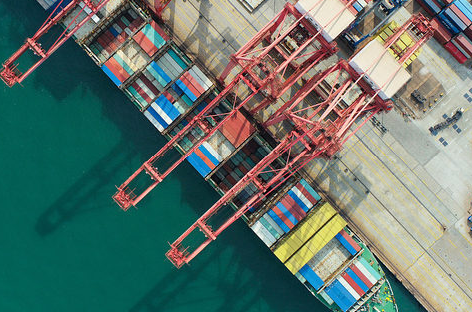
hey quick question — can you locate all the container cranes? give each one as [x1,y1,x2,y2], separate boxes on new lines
[162,11,443,275]
[108,0,362,219]
[0,0,111,92]
[338,0,410,50]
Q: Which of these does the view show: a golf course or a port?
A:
port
